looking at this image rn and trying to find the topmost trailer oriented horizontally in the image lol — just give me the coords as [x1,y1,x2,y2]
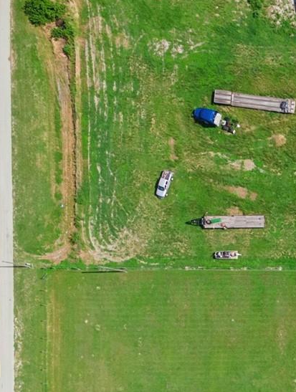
[214,90,296,113]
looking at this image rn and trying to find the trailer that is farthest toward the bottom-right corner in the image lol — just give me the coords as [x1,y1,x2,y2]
[188,216,265,228]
